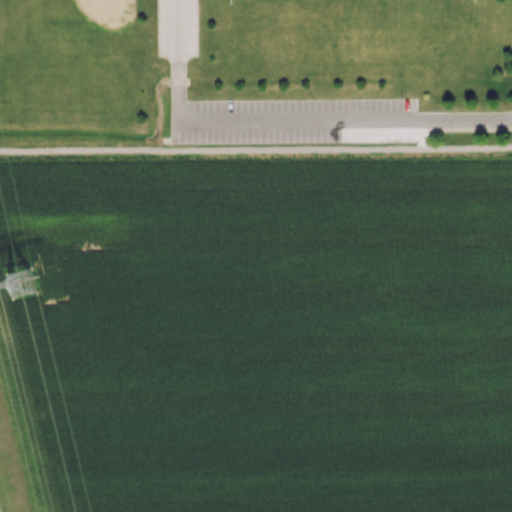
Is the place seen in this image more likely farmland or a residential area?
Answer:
farmland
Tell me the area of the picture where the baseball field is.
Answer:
top left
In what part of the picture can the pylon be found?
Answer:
left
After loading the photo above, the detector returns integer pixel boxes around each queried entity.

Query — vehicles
[406,100,410,111]
[228,99,234,113]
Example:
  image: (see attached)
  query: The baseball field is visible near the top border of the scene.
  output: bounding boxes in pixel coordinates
[76,0,138,30]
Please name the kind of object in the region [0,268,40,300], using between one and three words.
pylon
